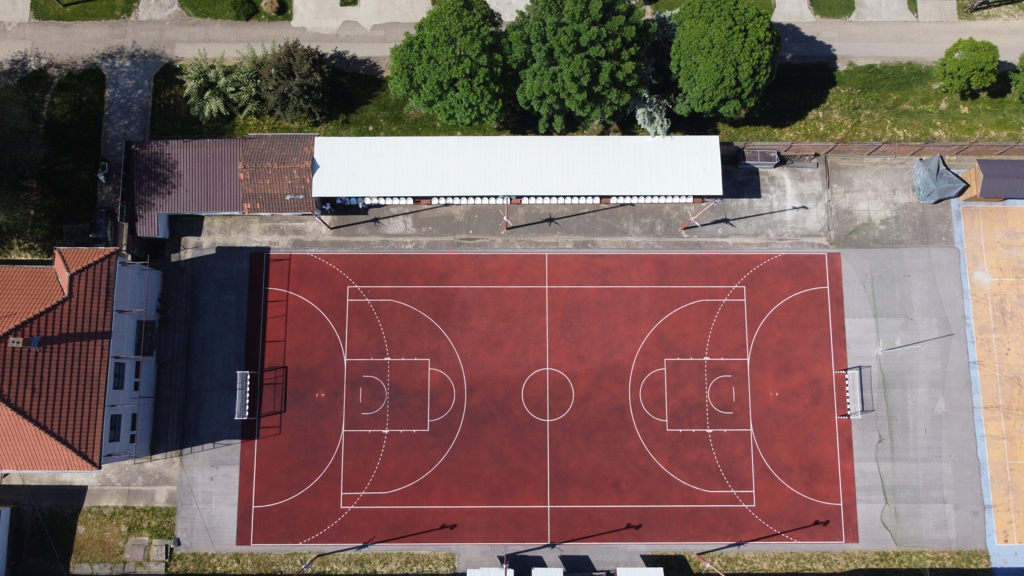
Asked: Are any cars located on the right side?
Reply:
No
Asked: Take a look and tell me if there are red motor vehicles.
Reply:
No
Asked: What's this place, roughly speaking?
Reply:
sports ground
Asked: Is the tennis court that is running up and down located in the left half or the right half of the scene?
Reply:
right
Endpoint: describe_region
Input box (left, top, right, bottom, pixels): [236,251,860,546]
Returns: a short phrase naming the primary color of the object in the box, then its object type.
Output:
red sports court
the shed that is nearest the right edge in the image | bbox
[959,159,1024,200]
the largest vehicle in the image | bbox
[90,216,120,247]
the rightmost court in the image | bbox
[952,171,1024,576]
